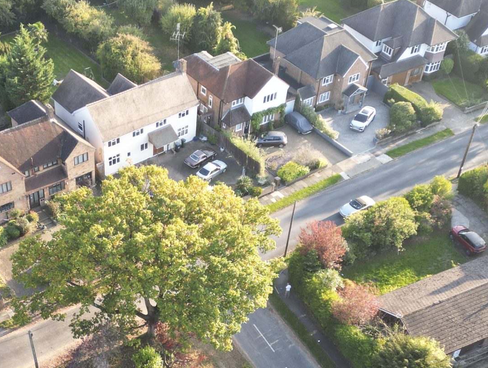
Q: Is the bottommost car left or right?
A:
right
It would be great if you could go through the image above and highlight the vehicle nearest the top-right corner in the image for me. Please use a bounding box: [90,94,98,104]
[346,102,380,131]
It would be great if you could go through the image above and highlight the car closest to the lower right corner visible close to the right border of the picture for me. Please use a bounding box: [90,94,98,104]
[450,226,488,256]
